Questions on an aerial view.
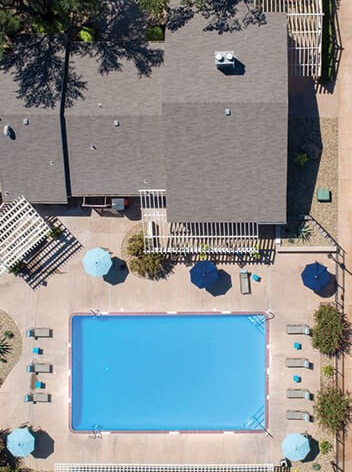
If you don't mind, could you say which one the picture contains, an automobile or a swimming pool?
swimming pool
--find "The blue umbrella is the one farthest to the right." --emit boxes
[302,261,332,292]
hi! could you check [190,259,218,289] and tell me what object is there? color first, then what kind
blue umbrella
